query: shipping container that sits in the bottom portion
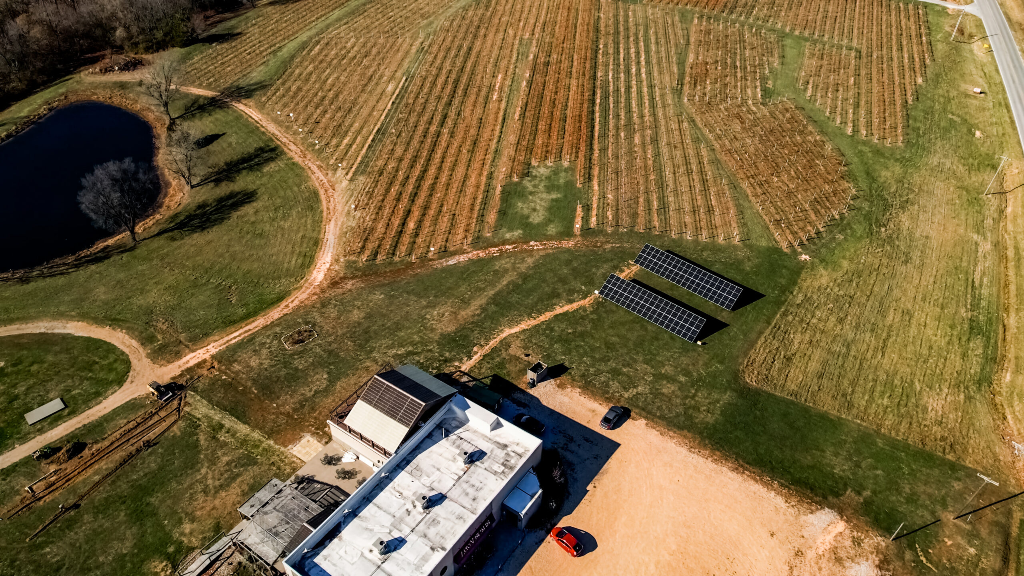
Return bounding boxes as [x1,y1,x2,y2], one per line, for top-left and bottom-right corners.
[468,383,501,412]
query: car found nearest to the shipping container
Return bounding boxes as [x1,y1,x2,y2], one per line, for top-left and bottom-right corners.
[509,410,543,432]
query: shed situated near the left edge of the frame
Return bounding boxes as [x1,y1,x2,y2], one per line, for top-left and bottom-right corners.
[24,396,63,423]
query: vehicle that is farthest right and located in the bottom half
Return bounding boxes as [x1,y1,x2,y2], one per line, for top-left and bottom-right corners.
[597,403,624,428]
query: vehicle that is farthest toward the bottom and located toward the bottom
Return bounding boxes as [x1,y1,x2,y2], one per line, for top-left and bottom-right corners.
[545,530,580,559]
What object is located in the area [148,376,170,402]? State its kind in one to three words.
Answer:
work vehicle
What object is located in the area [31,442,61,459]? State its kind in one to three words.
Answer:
work vehicle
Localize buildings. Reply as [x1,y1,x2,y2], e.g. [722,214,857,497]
[24,396,63,423]
[283,391,544,576]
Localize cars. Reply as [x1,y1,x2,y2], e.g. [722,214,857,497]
[597,403,624,428]
[509,410,543,432]
[545,530,580,559]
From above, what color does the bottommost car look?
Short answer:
red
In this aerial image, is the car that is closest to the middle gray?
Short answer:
No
